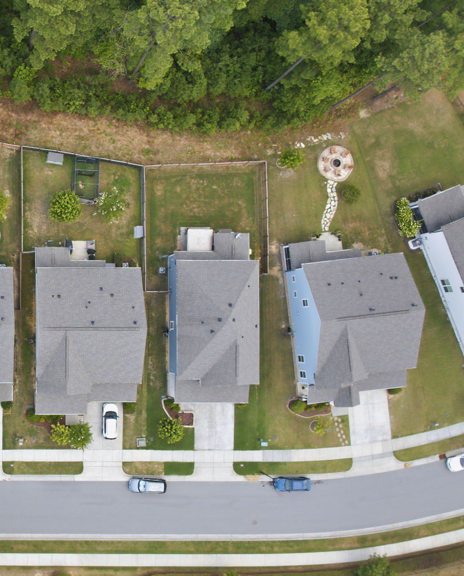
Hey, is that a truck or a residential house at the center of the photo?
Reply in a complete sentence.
There is a residential house at the center of the photo.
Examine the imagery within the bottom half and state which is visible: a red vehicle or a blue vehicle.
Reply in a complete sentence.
What appears within the bottom half is a blue vehicle.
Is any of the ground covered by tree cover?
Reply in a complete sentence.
Yes, there's tree cover in this view.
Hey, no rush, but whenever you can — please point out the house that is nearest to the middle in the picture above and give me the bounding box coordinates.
[169,232,260,403]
